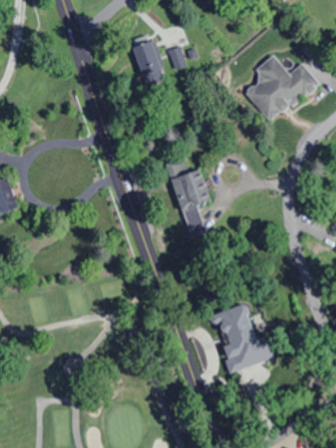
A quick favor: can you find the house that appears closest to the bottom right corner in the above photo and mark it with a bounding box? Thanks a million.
[210,302,274,375]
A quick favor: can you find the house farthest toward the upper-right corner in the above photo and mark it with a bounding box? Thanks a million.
[245,60,319,116]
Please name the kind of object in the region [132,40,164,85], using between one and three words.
house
